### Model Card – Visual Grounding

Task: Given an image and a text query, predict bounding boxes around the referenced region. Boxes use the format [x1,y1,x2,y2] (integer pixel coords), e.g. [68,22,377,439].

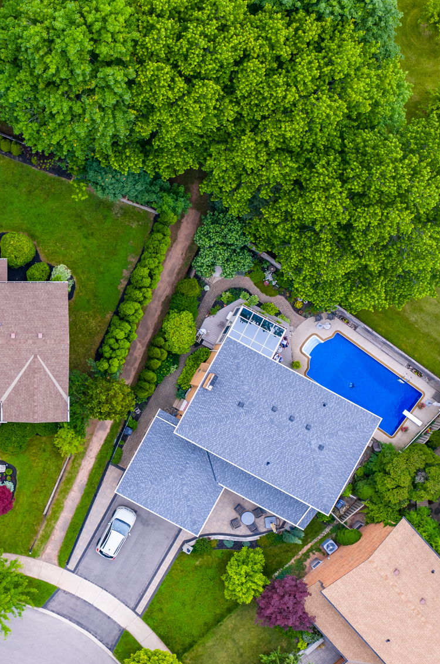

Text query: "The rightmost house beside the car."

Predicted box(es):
[114,335,384,538]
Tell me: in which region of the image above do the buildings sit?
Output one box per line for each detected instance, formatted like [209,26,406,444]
[114,335,384,538]
[303,514,440,664]
[0,259,70,423]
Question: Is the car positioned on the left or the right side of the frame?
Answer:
left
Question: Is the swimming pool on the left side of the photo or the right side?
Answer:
right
